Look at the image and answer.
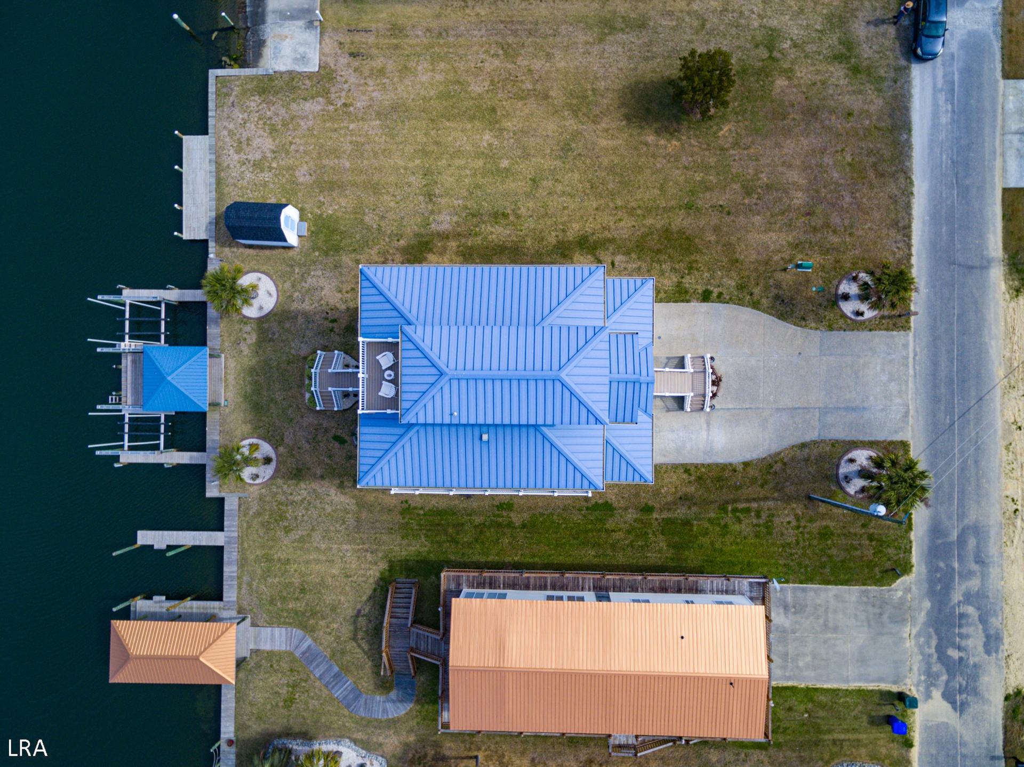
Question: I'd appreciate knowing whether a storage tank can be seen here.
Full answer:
No, there appears to be no storage tank in this shot.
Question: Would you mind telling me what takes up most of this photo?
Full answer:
The largest share of the image is taken up by grass.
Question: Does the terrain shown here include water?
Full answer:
Yes, water shows up in the scene.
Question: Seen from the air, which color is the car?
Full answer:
The car is blue.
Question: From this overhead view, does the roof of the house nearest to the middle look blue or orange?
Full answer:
From above, the roof of the house nearest to the middle appears blue.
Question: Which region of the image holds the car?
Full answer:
You can find the car in the top right area of the picture.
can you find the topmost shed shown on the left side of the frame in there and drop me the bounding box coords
[226,204,299,251]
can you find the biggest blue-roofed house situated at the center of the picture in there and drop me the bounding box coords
[358,264,657,497]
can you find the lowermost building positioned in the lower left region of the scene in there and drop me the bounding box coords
[108,614,249,685]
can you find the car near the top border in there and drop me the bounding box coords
[904,0,954,61]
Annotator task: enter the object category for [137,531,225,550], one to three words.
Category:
pier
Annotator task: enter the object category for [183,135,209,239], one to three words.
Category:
pier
